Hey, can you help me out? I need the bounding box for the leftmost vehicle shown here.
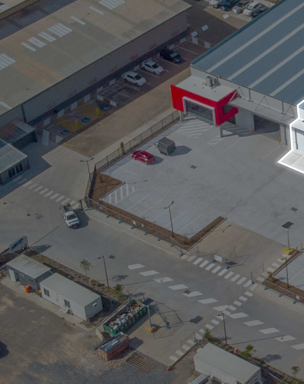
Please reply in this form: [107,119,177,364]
[62,204,78,229]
